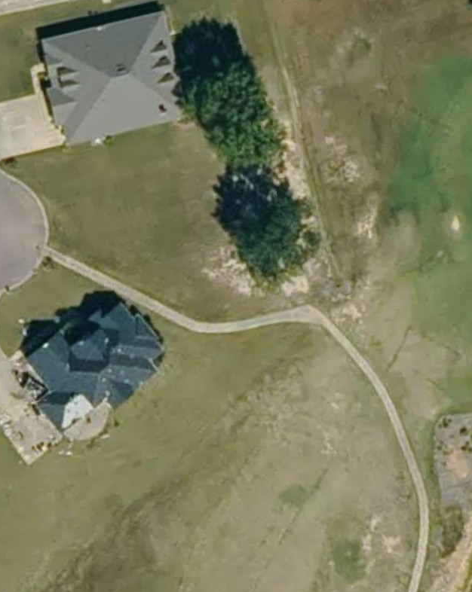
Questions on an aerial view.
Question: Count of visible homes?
2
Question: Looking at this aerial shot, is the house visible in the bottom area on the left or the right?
left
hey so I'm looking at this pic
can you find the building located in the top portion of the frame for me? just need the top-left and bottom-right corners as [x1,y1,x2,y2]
[40,8,184,142]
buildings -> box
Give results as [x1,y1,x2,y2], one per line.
[27,302,164,430]
[40,8,184,142]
